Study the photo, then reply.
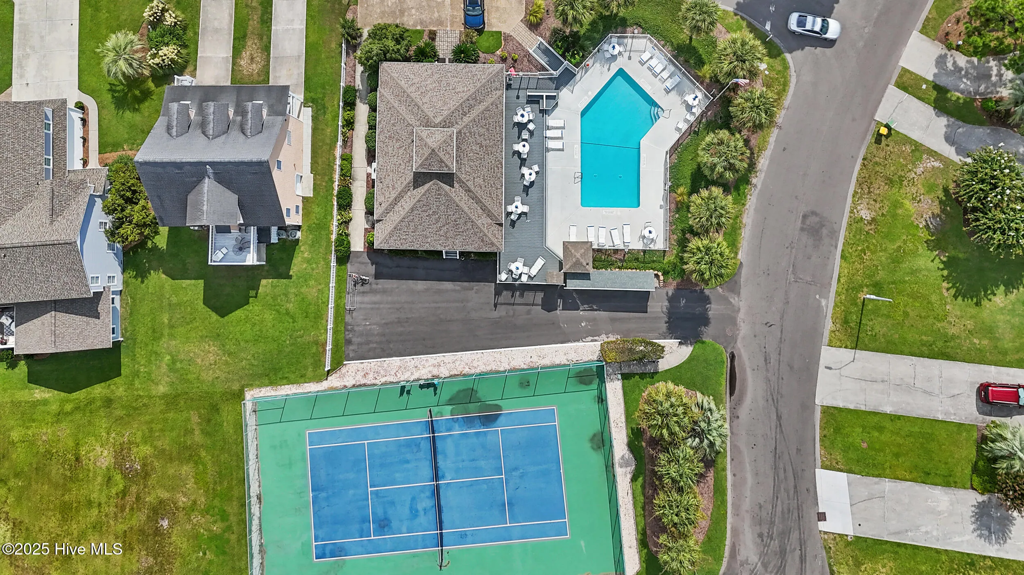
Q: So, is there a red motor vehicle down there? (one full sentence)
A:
Yes, a red motor vehicle is visible in the scene.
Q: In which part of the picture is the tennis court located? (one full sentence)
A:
Look in the bottom portion of the view to spot the tennis court.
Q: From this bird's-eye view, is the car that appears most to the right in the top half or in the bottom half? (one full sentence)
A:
The bottom half of the photo is where the car that appears most to the right is.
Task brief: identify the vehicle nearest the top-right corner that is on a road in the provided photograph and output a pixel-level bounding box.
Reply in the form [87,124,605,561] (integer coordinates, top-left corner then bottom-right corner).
[786,14,840,42]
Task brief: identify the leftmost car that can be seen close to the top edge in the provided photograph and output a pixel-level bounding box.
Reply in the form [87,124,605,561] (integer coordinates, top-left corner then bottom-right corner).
[463,0,486,29]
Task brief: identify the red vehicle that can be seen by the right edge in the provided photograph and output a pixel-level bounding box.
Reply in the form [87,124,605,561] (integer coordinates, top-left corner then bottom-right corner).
[976,382,1024,409]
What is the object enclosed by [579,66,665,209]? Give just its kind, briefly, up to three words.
swimming pool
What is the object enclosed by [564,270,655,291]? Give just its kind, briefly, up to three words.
shed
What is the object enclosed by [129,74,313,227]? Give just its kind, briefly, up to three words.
house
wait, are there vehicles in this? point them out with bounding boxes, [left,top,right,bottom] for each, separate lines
[463,0,486,29]
[786,14,840,42]
[976,382,1024,409]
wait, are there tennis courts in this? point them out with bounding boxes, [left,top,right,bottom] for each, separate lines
[248,364,626,575]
